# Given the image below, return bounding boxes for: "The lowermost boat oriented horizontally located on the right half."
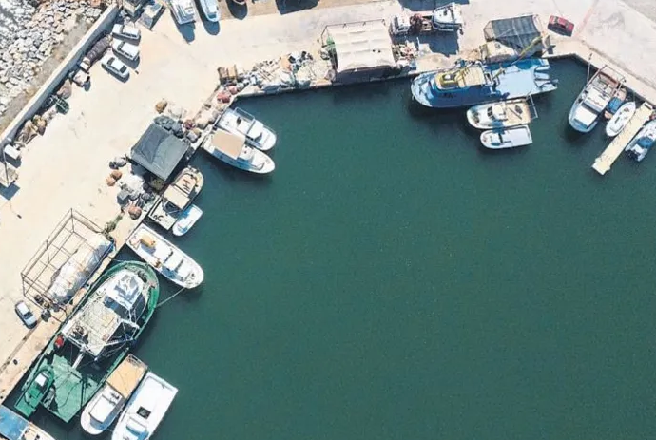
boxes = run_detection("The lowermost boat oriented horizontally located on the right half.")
[479,126,532,148]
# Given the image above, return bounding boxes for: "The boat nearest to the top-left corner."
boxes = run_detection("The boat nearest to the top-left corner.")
[169,0,197,25]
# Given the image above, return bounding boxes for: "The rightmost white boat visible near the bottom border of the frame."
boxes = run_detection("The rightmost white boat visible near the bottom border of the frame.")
[117,373,178,440]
